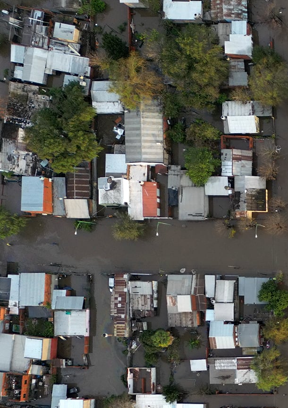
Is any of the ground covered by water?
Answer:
Yes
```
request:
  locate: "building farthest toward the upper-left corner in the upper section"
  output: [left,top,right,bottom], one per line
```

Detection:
[7,8,54,49]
